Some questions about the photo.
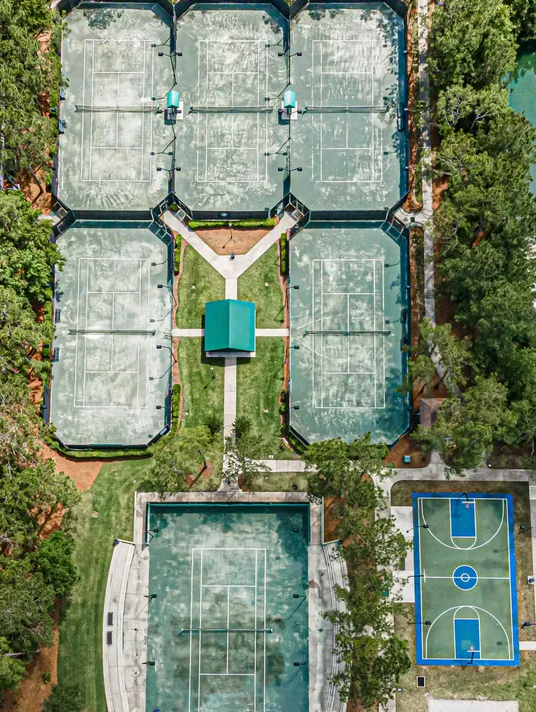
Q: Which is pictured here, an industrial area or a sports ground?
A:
sports ground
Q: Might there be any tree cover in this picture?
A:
Yes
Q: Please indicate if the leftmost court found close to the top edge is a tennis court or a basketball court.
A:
tennis court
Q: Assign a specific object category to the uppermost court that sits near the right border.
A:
basketball court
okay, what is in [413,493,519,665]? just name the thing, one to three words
basketball court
